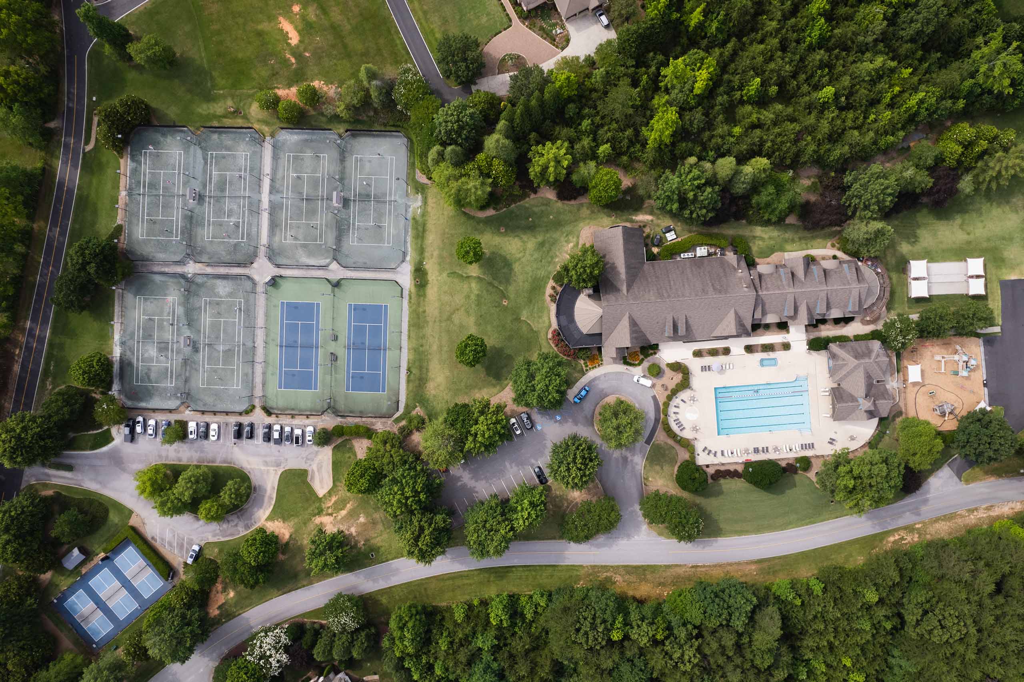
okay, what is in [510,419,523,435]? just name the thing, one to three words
vehicle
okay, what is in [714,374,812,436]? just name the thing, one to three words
swimming pool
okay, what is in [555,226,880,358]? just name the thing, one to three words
building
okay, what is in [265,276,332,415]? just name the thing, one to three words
tennis court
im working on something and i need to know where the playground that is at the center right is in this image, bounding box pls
[903,336,986,432]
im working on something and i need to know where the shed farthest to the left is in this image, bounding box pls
[57,550,84,573]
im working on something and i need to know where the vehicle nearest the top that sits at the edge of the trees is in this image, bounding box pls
[596,9,610,28]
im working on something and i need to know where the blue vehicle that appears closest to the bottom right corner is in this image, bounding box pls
[575,386,588,403]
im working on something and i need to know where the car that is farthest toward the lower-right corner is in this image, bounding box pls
[633,375,652,387]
